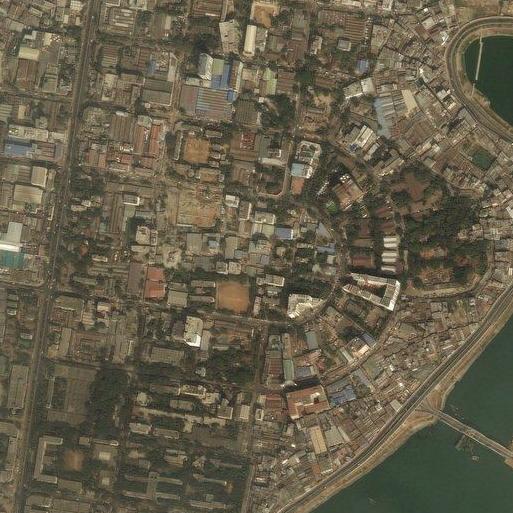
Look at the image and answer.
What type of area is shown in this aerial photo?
residential area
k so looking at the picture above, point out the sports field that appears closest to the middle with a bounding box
[215,281,247,311]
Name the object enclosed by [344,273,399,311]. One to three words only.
building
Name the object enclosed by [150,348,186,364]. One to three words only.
shed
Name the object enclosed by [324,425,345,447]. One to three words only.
shed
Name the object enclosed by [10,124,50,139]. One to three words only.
building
